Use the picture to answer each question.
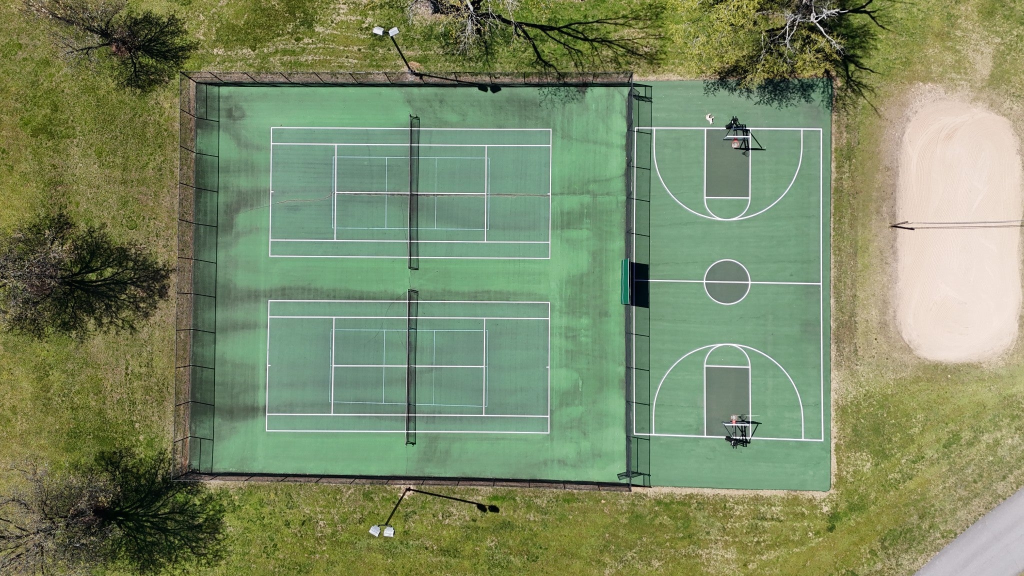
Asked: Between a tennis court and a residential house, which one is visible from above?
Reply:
tennis court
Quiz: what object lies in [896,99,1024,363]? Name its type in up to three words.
sports court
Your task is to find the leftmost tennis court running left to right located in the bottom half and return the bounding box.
[266,296,550,433]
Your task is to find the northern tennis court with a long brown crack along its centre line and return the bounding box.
[269,127,552,259]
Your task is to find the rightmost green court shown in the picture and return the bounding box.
[632,78,834,491]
